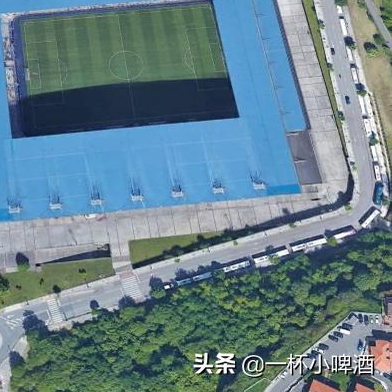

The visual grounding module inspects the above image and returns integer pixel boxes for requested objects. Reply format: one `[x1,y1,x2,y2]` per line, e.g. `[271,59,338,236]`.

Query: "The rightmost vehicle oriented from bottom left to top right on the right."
[360,210,381,230]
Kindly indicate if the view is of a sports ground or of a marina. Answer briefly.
sports ground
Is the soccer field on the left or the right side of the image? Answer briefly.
left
